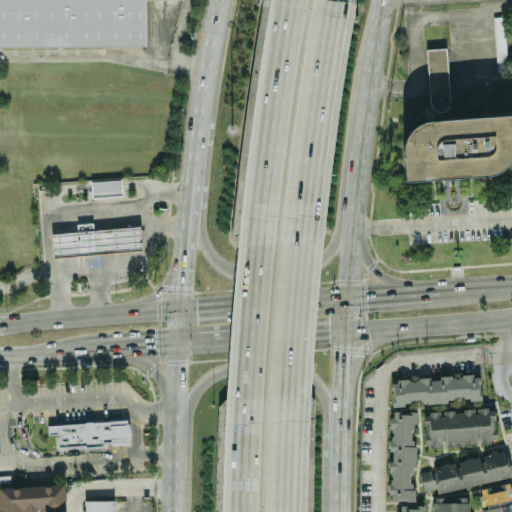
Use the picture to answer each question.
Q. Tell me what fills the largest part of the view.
paved ground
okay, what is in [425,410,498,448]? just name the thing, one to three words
building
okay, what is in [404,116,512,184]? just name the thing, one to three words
building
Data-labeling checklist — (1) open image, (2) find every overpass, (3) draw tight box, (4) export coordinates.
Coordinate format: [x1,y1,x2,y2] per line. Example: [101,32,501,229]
[226,215,327,424]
